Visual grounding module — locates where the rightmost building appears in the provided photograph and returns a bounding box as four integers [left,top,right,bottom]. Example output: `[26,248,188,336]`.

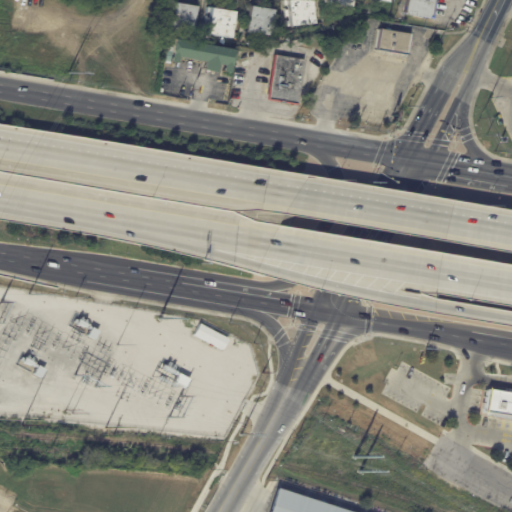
[482,384,512,418]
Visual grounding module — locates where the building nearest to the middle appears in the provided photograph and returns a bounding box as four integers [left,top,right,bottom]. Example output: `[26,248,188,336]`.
[193,322,229,350]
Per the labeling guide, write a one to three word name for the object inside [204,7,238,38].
house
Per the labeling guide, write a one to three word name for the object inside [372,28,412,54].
building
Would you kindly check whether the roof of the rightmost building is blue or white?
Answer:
white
